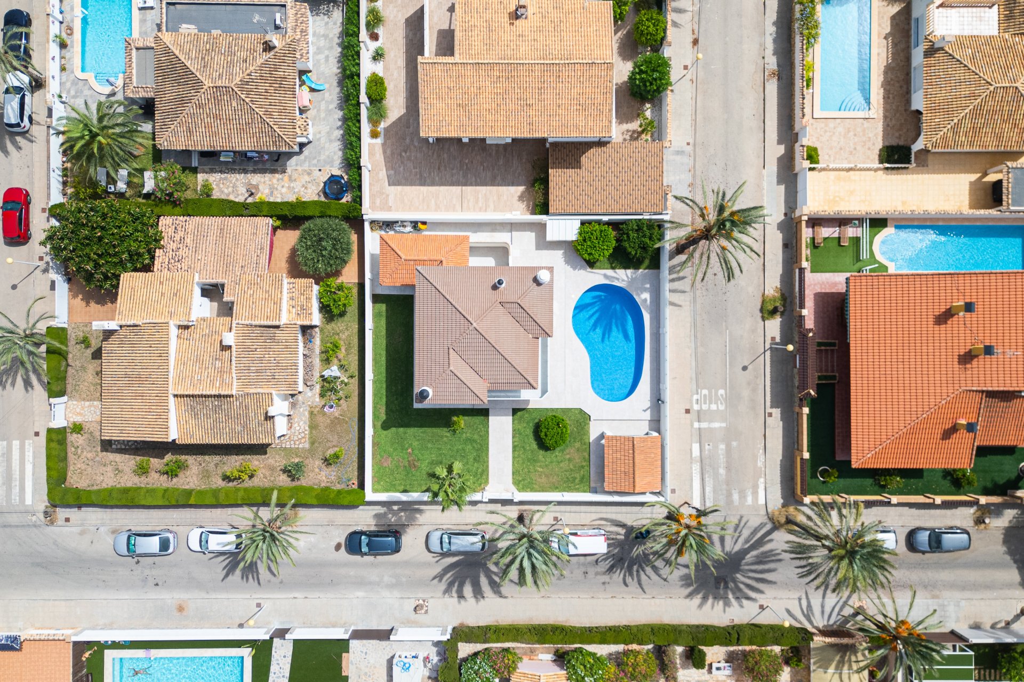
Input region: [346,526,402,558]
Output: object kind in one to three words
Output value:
car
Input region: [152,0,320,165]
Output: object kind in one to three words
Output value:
house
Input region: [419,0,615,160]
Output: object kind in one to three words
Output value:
house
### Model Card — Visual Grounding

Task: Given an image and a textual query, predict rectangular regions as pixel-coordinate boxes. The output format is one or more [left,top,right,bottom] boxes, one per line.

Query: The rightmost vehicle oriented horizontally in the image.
[906,525,971,556]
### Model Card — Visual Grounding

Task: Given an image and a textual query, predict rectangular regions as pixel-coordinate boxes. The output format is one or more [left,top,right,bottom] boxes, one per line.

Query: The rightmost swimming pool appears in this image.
[872,218,1024,272]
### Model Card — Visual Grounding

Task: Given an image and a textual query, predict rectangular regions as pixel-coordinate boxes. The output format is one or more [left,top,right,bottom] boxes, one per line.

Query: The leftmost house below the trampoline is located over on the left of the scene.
[93,216,331,444]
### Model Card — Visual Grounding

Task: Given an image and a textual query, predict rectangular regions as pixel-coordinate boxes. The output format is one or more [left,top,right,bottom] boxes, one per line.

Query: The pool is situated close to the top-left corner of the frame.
[74,0,139,95]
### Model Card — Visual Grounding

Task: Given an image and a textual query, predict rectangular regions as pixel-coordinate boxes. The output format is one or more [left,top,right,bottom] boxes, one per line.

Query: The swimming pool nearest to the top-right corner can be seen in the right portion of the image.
[813,0,877,118]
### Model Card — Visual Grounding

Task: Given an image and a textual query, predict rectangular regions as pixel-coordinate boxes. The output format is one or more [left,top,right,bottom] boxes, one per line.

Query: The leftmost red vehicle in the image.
[0,189,36,245]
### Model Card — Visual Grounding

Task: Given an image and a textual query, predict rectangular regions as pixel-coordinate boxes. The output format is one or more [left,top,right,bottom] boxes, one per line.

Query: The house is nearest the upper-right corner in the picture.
[911,0,1024,151]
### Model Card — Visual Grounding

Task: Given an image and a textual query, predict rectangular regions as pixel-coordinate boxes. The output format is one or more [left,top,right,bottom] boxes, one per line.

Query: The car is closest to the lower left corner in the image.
[115,527,179,559]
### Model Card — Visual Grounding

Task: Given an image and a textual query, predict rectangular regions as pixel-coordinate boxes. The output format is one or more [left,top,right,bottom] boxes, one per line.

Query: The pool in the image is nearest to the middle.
[572,284,645,401]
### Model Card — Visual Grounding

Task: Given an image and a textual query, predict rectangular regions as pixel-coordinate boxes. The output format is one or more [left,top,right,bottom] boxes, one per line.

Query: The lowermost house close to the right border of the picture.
[841,269,1024,469]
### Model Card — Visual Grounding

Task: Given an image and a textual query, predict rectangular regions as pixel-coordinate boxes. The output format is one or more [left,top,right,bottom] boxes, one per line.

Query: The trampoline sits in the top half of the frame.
[319,172,345,201]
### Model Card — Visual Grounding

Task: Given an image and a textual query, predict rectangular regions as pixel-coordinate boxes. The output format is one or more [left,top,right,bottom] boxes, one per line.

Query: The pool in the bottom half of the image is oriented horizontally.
[104,648,252,682]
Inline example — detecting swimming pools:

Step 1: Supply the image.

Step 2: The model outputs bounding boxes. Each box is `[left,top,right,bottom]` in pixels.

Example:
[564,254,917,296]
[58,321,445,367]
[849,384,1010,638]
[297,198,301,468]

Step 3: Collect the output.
[74,0,139,95]
[572,284,645,401]
[813,0,877,118]
[872,218,1024,272]
[104,648,252,682]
